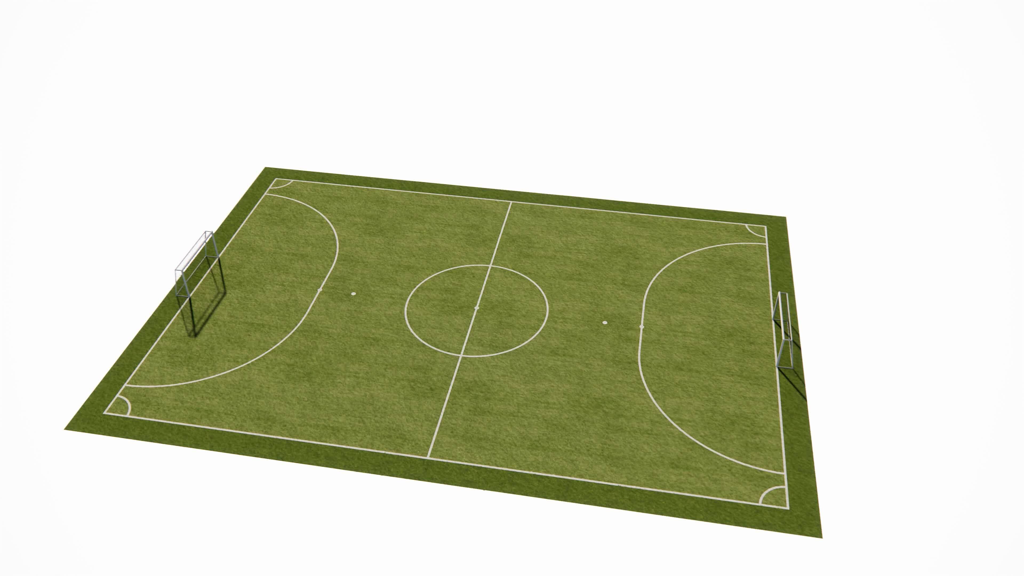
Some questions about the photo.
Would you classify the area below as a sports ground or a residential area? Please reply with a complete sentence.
This looks like a sports ground.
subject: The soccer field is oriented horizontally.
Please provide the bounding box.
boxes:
[64,167,823,539]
